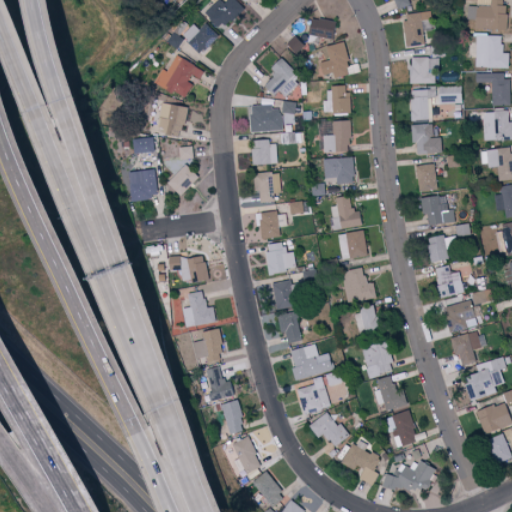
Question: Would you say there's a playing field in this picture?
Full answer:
No, no playing field can be seen from above.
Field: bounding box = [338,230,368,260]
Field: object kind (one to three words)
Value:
house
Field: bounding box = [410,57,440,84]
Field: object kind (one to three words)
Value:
house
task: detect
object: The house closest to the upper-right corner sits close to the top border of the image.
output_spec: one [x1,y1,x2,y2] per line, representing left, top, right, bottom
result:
[468,0,508,32]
